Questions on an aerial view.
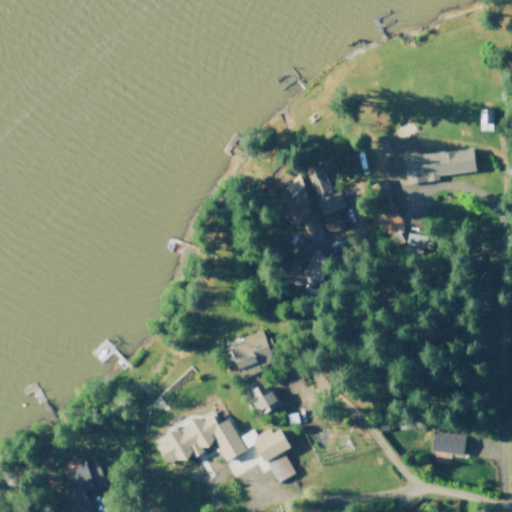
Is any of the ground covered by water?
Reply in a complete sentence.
Yes, there's water in this view.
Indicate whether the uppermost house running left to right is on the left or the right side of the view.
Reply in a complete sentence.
The uppermost house running left to right is on the right side of the image.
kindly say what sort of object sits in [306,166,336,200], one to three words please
house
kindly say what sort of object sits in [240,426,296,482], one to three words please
house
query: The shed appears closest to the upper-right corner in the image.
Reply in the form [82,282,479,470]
[480,108,495,132]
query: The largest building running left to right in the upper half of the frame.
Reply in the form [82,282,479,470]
[406,146,479,183]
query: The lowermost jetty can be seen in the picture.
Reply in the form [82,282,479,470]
[24,381,61,424]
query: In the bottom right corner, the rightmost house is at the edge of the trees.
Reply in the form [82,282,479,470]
[432,432,467,460]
